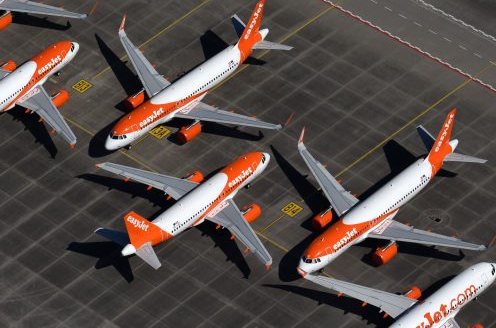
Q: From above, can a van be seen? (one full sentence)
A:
No, there appears to be no van in this shot.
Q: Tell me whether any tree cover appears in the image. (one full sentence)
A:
No, tree cover can't be seen anywhere here.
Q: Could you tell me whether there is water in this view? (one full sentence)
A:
No, no water is visible.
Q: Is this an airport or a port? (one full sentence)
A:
This looks like an airport.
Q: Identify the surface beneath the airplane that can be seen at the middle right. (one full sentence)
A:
You can see the airplane that can be seen at the middle right positioned on the apron.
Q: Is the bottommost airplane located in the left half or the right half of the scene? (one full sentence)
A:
The bottommost airplane is on the right side of the image.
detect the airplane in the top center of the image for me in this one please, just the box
[104,0,294,149]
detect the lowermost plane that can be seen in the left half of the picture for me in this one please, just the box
[94,154,273,271]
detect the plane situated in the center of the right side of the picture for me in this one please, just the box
[298,108,496,273]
